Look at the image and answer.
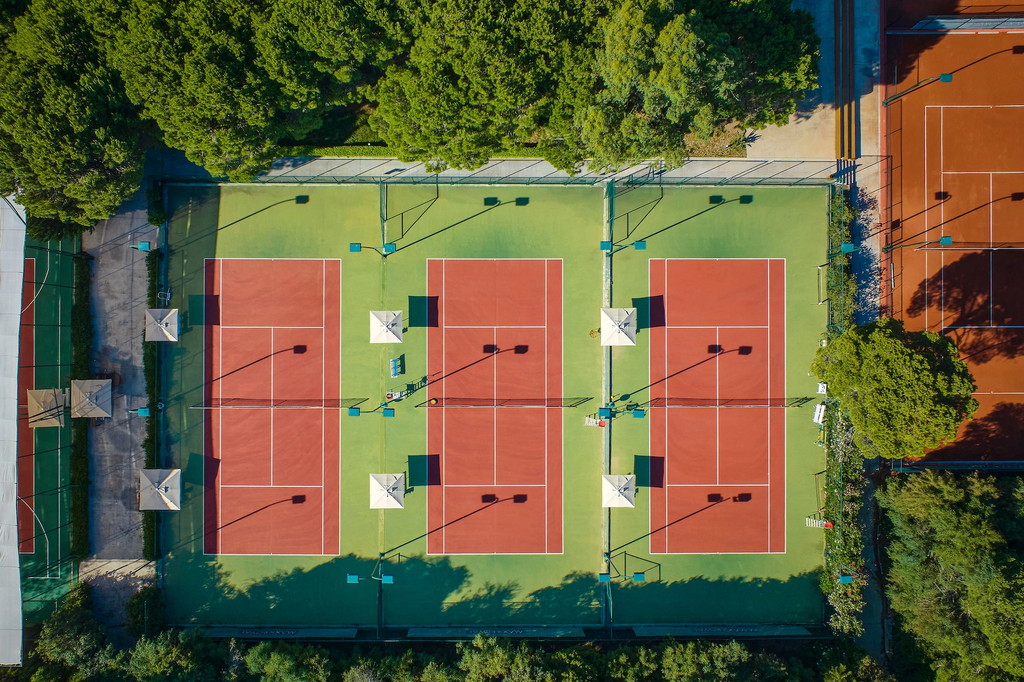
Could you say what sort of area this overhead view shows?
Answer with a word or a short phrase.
sports ground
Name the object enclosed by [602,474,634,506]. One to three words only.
umbrella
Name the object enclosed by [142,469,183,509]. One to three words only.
umbrella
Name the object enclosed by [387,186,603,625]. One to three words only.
tennis court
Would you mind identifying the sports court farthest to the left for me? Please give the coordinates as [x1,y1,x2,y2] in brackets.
[19,193,79,618]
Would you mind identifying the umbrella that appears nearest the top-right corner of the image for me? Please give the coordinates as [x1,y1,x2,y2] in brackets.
[600,310,635,344]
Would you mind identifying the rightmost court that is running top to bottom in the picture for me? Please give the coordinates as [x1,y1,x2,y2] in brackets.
[888,31,1024,461]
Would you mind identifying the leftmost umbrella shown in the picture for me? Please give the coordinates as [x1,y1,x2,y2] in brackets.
[31,389,69,427]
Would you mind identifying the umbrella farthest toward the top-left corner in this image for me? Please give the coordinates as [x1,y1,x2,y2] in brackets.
[147,309,181,342]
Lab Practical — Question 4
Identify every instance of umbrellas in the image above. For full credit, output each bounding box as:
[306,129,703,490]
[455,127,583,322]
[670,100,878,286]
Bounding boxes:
[371,311,404,343]
[600,310,635,344]
[142,469,183,509]
[147,309,181,342]
[31,389,69,427]
[371,473,405,507]
[75,379,114,417]
[602,474,634,506]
